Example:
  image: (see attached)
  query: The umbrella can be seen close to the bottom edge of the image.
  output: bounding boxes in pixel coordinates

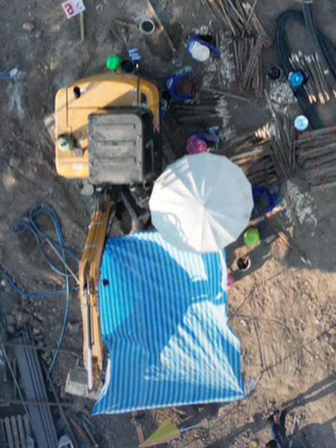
[139,419,206,448]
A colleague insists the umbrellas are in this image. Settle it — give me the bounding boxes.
[139,419,206,448]
[150,152,254,254]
